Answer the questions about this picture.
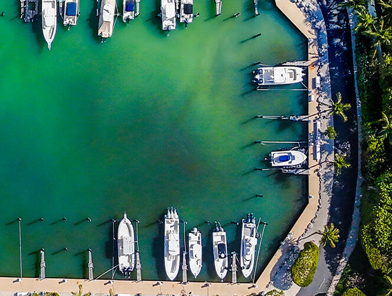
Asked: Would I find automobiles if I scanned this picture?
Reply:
No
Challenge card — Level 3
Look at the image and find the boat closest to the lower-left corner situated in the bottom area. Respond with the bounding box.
[117,211,134,279]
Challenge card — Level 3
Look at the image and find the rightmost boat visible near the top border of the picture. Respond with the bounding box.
[179,0,194,34]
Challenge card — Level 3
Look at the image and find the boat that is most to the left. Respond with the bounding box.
[41,0,57,49]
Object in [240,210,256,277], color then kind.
white boat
